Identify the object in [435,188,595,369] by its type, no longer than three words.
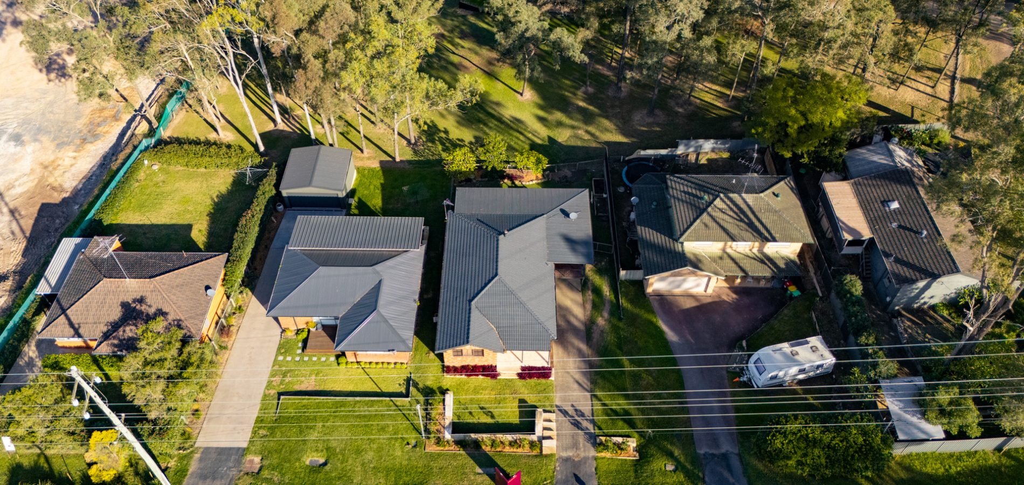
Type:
house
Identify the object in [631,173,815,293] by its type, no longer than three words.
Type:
house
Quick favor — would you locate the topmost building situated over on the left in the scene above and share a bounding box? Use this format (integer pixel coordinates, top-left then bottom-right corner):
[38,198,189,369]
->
[280,144,355,210]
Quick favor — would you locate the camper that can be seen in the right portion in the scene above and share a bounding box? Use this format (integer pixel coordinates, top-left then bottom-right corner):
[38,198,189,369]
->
[731,336,835,391]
